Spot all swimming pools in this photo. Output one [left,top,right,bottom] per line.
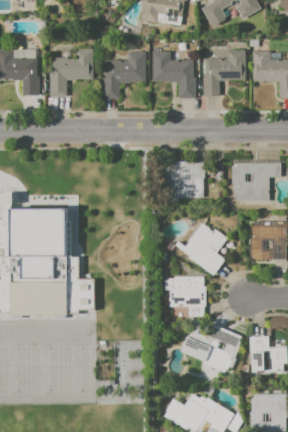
[276,180,288,203]
[124,2,142,26]
[166,220,188,238]
[216,390,238,407]
[170,348,184,374]
[0,0,12,10]
[14,22,40,34]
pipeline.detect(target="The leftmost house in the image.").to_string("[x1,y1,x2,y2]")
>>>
[0,49,40,95]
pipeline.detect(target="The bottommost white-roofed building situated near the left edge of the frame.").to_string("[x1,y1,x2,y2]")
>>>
[0,192,95,318]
